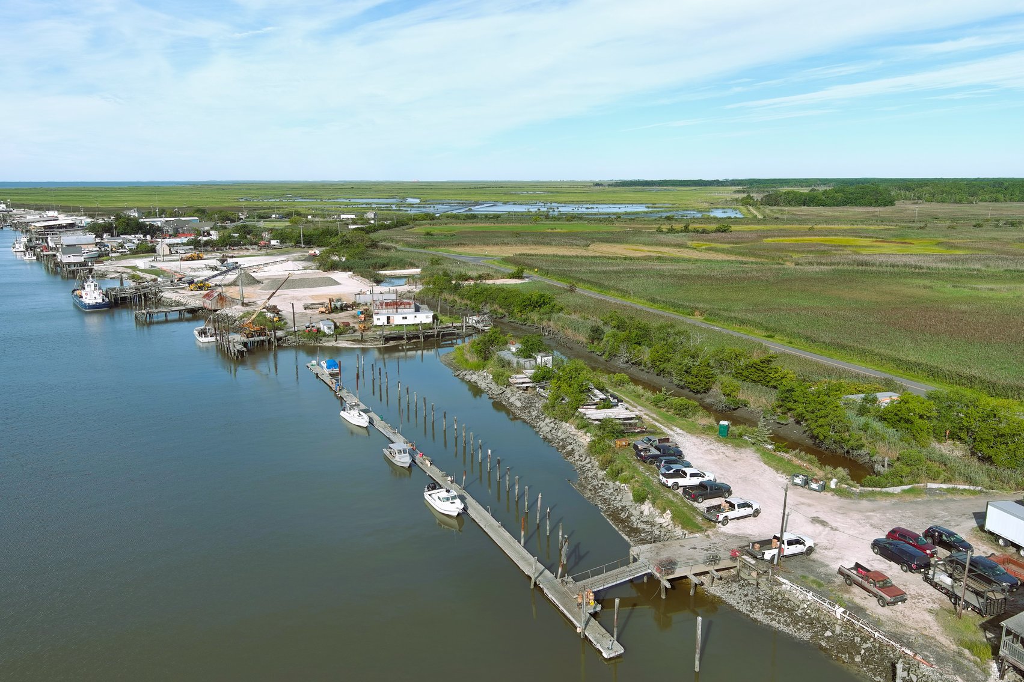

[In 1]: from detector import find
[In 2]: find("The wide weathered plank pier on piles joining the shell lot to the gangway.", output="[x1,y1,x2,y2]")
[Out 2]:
[629,533,743,603]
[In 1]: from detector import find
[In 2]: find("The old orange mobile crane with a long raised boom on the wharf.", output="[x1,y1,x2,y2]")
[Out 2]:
[236,273,294,340]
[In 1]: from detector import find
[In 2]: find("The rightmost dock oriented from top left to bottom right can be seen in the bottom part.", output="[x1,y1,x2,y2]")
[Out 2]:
[308,363,624,659]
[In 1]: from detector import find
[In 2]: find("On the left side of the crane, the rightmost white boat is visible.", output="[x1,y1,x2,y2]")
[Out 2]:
[195,323,218,345]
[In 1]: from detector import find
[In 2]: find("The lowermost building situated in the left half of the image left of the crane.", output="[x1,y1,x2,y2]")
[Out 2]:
[200,291,240,311]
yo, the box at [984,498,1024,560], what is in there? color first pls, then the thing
white vehicle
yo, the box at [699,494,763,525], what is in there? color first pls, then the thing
white truck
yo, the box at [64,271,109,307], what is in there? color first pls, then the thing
white boat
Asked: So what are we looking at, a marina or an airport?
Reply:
marina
